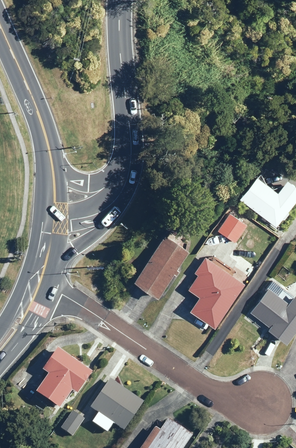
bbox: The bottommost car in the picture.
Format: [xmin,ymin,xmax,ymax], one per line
[196,394,212,406]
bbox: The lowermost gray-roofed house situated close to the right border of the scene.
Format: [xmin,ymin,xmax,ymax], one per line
[250,281,296,346]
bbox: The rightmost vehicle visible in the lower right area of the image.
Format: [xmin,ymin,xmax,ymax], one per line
[263,341,276,357]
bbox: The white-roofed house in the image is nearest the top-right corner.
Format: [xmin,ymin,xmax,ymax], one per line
[240,176,296,228]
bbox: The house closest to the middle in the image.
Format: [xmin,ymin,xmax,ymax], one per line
[134,238,188,299]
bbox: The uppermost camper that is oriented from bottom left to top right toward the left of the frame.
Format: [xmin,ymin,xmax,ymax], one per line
[98,205,122,228]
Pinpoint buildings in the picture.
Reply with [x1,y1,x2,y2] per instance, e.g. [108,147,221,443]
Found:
[218,214,246,243]
[134,238,188,299]
[188,258,245,330]
[36,346,92,406]
[90,378,144,432]
[240,176,296,228]
[60,410,84,436]
[250,281,296,346]
[141,418,192,448]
